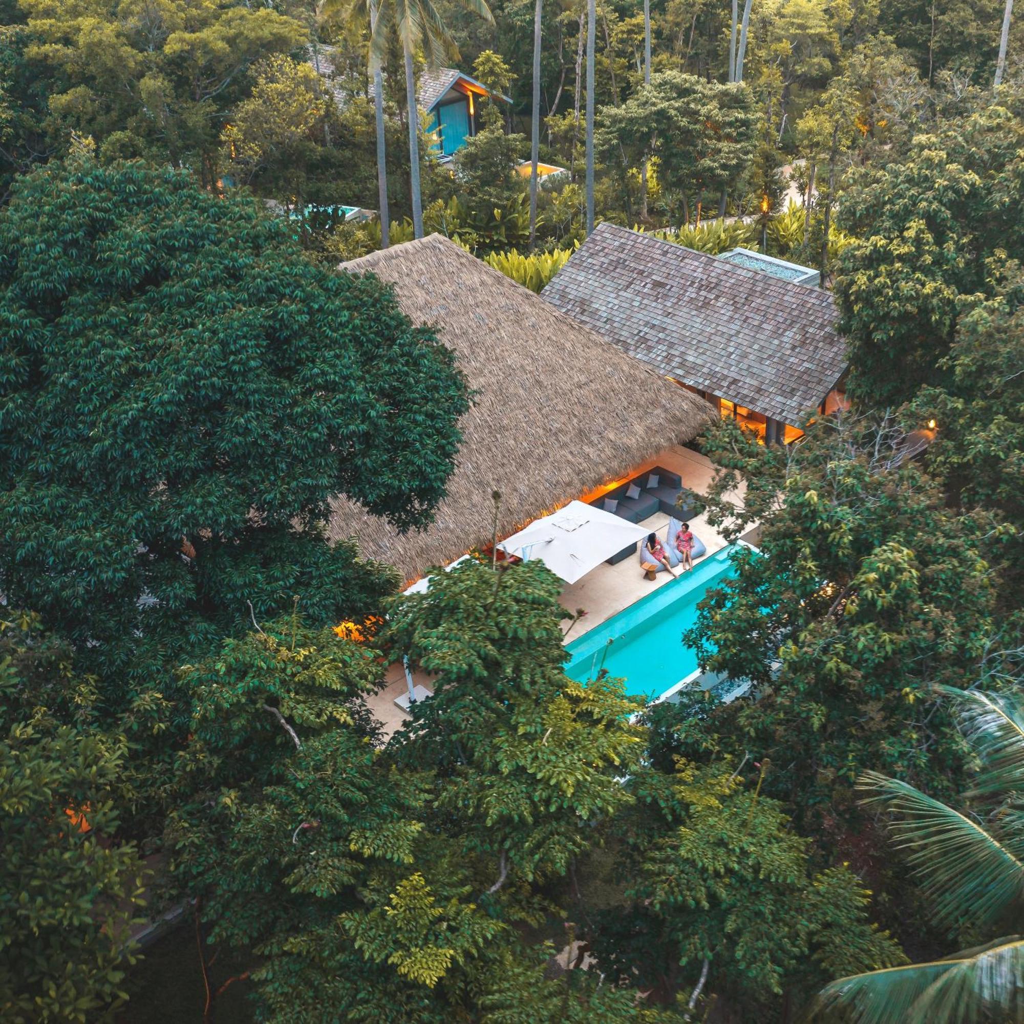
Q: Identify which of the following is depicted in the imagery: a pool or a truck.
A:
pool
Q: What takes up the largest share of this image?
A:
trees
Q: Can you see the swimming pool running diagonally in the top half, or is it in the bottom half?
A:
bottom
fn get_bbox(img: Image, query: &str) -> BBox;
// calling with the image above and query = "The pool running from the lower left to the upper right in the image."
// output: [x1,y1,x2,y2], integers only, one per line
[441,552,843,865]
